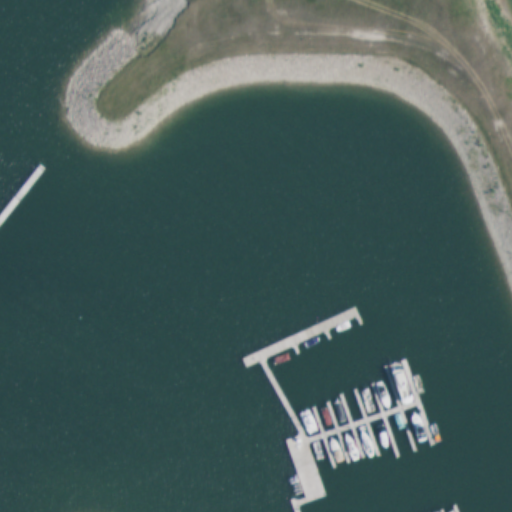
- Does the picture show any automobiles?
No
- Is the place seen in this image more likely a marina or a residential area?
marina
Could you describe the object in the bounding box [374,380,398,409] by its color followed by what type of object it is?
white boat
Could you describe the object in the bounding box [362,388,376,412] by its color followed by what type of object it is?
white boat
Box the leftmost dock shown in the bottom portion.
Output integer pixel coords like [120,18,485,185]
[243,306,436,512]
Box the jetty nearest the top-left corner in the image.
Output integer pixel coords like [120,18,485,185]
[0,164,46,226]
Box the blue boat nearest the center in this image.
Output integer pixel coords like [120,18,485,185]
[304,334,321,346]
